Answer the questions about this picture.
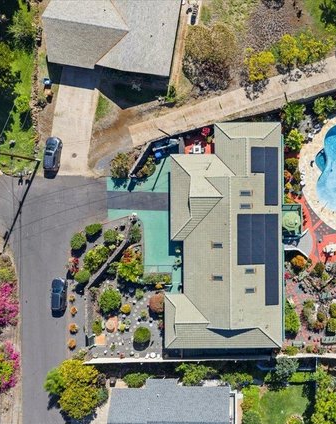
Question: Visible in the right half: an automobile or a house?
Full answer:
The one visible in the right half is a house.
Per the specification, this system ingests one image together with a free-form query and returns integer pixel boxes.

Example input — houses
[164,122,283,358]
[42,0,183,74]
[108,378,245,424]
